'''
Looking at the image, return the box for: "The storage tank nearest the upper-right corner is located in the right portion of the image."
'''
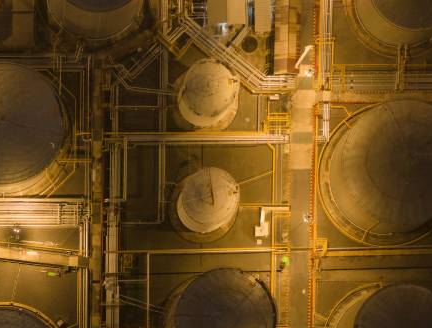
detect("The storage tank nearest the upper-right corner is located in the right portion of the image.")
[345,0,432,59]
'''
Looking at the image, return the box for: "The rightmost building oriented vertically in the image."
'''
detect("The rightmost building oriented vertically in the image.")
[271,0,300,79]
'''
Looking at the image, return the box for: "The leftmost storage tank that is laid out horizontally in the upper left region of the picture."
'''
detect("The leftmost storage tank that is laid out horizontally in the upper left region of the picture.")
[46,0,146,42]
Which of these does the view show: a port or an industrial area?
industrial area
